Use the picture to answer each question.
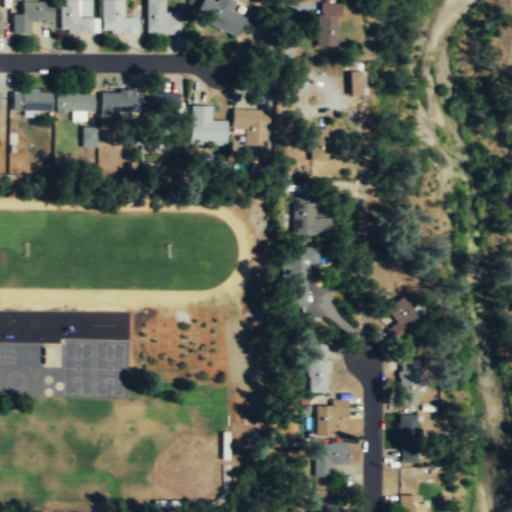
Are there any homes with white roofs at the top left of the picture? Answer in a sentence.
Yes, a home with a white roof is visible at the top left of the picture.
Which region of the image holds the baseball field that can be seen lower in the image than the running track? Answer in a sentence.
The baseball field that can be seen lower in the image than the running track appears toward the bottom left of the photo.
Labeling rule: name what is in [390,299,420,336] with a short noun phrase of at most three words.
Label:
house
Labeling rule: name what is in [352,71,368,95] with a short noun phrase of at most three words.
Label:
house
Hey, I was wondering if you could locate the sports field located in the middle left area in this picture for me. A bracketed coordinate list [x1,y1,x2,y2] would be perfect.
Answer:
[0,211,238,290]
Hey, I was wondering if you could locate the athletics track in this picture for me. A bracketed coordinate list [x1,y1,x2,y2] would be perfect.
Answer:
[0,199,248,312]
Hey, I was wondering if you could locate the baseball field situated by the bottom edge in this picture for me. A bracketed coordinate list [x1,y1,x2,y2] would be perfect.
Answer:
[0,384,228,512]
